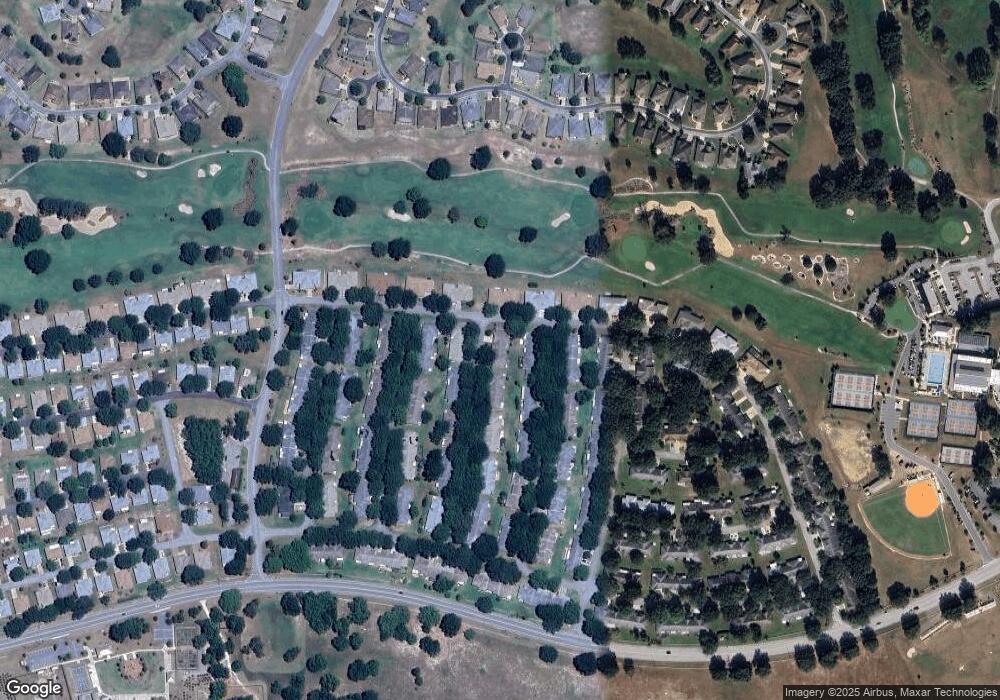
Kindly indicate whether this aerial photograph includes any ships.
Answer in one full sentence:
No, the picture doesn't show any ship.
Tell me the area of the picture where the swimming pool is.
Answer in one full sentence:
The swimming pool is located in the right region of the scene.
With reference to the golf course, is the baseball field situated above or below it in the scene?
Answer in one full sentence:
The position of the baseball field is below the golf course.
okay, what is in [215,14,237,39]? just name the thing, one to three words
house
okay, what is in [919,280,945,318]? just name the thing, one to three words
building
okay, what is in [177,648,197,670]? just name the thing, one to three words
tennis court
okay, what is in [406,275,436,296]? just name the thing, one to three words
house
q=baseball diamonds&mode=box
[857,472,952,559]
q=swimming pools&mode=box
[921,347,951,391]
